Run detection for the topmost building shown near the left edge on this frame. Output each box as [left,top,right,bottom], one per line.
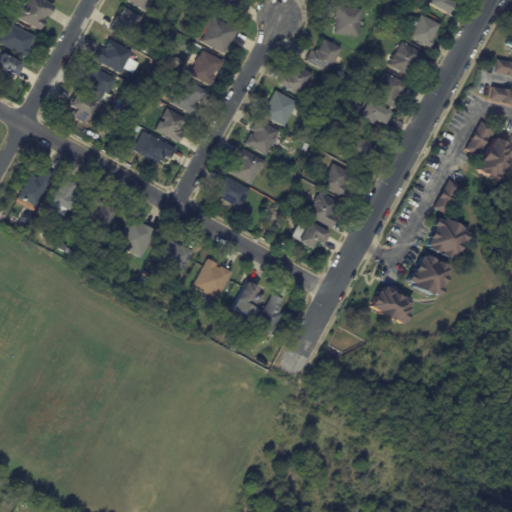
[18,0,54,31]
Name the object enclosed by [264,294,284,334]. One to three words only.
house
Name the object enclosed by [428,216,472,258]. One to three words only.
building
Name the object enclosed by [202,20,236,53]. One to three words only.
house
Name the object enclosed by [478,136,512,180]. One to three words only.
building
